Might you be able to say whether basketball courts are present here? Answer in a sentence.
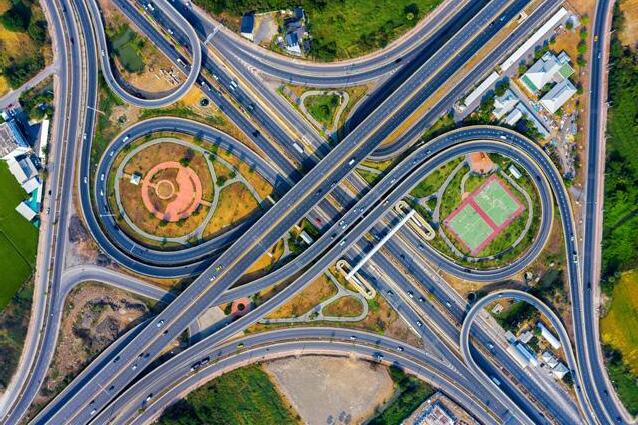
Yes, this view includes a basketball court.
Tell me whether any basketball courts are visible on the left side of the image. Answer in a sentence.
No, I see no basketball court on the left side of the image.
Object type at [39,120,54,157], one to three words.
shed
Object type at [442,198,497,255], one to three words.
basketball court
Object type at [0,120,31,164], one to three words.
building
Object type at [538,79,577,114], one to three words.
building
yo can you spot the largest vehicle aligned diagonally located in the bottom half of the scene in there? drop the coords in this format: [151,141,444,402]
[190,355,210,372]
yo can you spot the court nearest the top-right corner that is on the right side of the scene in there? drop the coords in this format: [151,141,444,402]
[468,176,525,231]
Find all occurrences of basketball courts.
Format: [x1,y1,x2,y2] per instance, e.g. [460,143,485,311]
[468,176,525,231]
[442,198,497,255]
